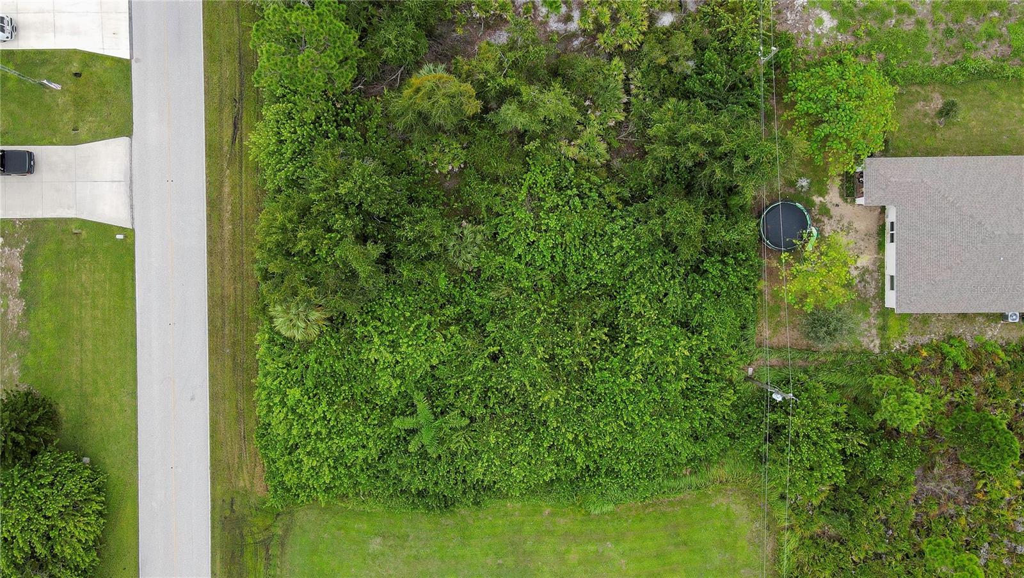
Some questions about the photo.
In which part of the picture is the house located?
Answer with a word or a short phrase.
right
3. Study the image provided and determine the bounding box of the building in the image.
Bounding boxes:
[854,157,1024,314]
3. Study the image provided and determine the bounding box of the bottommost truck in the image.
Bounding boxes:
[0,149,39,175]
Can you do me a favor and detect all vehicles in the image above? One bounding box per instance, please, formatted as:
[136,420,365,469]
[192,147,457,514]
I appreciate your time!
[0,15,19,42]
[0,149,39,175]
